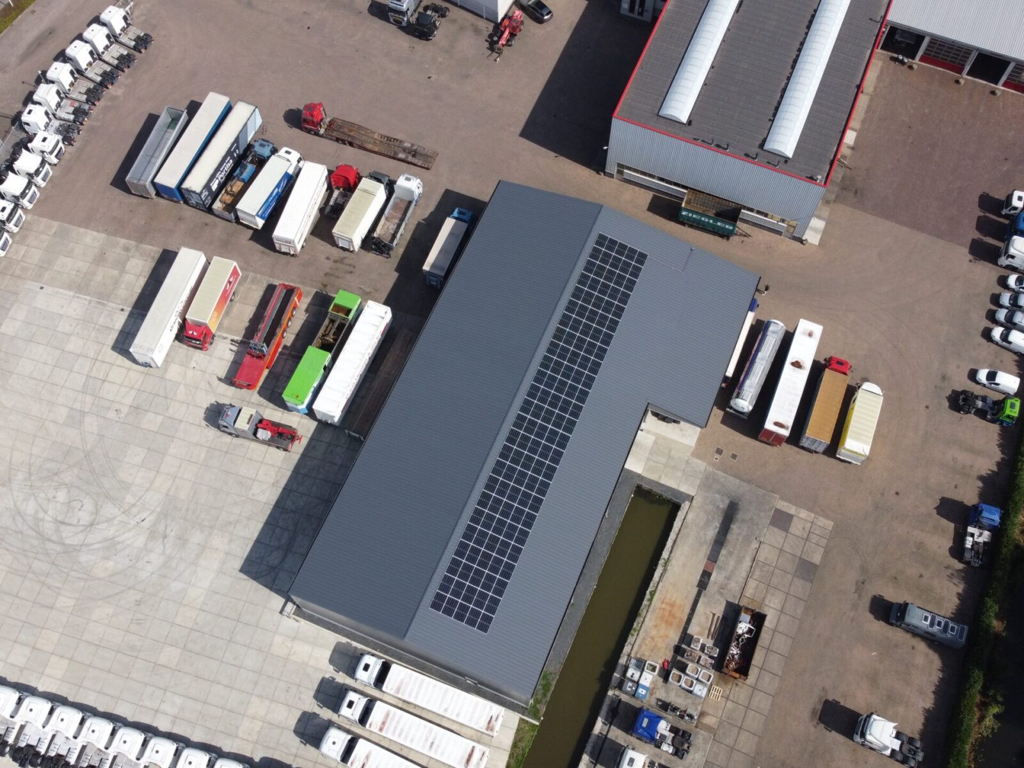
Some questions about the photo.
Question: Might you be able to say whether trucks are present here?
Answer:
Yes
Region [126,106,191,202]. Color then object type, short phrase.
gray trailer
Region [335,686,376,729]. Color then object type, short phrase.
white truck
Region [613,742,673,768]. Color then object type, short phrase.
white truck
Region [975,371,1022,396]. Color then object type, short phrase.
white vehicle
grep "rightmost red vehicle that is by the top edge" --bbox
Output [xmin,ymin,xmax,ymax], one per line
[493,10,524,61]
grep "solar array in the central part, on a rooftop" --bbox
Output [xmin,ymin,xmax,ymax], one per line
[432,234,648,633]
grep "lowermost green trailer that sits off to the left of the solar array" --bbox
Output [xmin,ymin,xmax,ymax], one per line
[283,290,363,411]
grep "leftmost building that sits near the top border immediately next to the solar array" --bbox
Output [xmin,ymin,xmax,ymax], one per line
[599,0,893,241]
